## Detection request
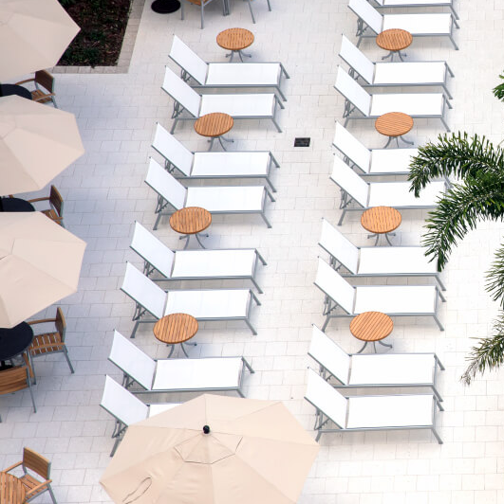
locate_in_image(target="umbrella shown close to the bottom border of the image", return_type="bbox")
[96,389,326,504]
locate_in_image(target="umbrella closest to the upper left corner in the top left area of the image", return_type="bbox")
[0,0,78,72]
